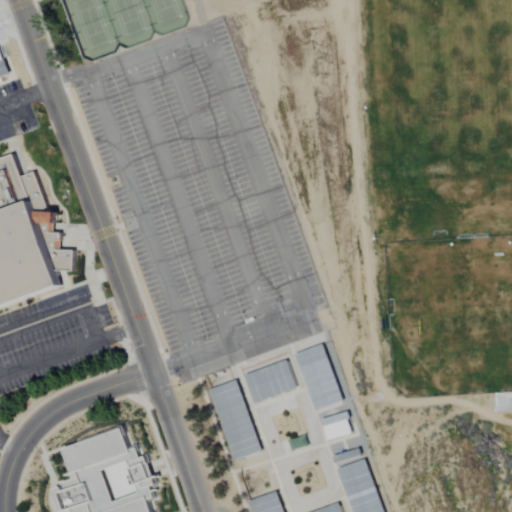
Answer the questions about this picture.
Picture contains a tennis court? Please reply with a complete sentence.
Yes, this view includes a tennis court.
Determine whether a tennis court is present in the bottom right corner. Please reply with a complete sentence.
No, I can find no tennis court in the bottom right corner.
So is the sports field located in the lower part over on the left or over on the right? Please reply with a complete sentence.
You can find the sports field located in the lower part on the right side of the picture.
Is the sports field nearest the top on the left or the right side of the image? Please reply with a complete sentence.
The sports field nearest the top appears in the right half of the scene.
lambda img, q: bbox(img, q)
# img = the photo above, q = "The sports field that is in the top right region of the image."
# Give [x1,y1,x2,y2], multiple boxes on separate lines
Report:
[365,0,512,240]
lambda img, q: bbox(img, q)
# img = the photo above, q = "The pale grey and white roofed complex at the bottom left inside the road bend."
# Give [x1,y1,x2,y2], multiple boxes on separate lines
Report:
[53,428,161,512]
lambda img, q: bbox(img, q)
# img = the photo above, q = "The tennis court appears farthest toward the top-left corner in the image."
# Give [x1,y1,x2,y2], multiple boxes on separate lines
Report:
[64,0,120,59]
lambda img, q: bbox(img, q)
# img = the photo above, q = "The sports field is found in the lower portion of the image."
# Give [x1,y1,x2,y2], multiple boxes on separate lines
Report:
[377,238,512,396]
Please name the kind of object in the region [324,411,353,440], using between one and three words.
shed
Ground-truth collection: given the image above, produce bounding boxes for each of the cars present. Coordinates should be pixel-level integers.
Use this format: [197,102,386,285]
[12,82,18,92]
[2,88,8,97]
[21,122,27,131]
